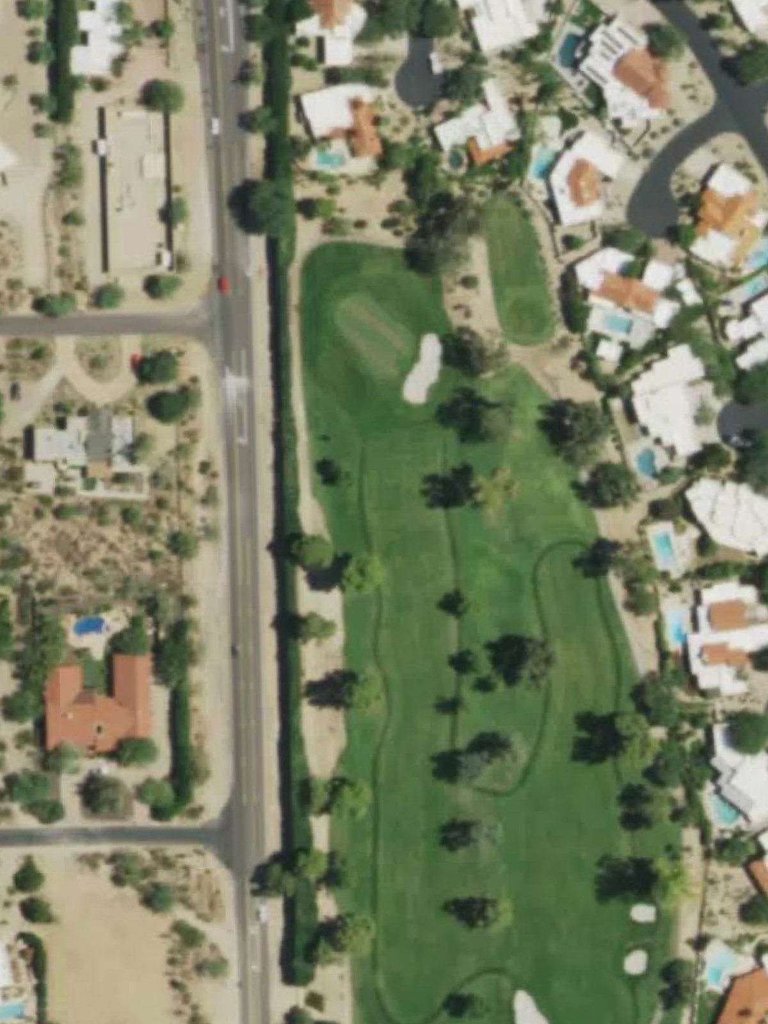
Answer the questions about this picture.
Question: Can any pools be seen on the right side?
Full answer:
Yes, a pool appears on the right side.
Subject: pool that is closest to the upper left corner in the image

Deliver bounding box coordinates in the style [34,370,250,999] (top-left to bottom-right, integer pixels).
[316,152,344,166]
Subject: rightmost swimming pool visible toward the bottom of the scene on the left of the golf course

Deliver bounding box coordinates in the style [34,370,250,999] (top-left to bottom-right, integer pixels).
[73,615,106,637]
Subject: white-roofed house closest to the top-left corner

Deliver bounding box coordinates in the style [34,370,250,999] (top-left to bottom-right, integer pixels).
[73,0,125,73]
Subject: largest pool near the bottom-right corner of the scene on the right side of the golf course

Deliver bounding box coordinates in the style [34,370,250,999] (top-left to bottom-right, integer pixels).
[705,947,737,986]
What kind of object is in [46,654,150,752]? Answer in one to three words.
house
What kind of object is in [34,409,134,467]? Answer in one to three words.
house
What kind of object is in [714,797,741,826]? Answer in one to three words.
swimming pool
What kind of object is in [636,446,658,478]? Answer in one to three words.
swimming pool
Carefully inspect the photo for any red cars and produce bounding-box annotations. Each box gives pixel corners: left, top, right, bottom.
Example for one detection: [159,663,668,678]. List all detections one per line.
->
[131,355,139,370]
[219,276,227,293]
